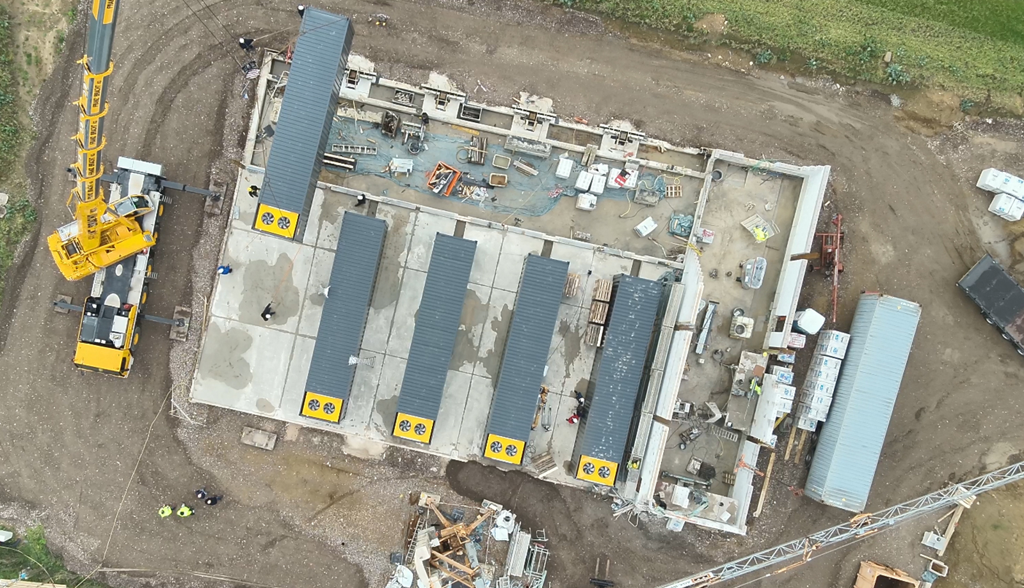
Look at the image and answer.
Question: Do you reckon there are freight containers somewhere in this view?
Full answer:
Yes, the photo shows a freight container.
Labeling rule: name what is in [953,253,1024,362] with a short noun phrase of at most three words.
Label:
trailer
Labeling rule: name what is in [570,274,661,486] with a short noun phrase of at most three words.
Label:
shipping container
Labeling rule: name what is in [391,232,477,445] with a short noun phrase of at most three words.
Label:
shipping container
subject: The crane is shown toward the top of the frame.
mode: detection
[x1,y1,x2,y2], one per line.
[39,0,223,378]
